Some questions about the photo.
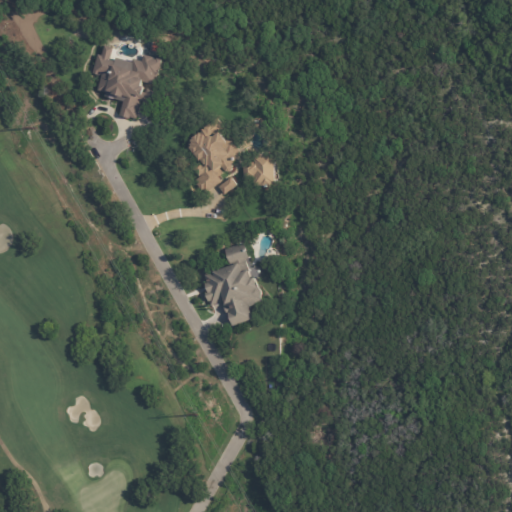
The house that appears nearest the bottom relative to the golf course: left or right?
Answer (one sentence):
The house that appears nearest the bottom appears to the right of the golf course in this view.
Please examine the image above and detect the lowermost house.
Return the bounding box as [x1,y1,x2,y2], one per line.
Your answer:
[204,246,262,326]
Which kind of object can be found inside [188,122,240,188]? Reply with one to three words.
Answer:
house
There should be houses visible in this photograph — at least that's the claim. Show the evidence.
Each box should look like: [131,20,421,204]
[188,122,240,188]
[244,158,276,187]
[95,44,165,122]
[204,246,262,326]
